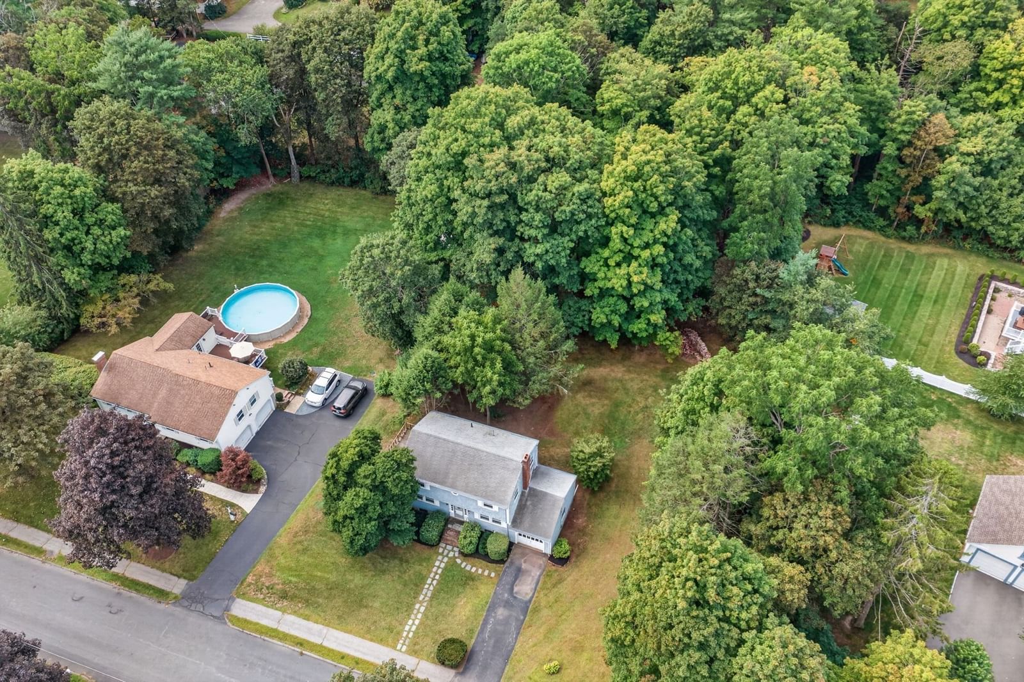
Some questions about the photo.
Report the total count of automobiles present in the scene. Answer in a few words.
2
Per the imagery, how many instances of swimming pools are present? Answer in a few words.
one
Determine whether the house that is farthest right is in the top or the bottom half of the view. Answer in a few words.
bottom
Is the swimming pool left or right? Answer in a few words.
left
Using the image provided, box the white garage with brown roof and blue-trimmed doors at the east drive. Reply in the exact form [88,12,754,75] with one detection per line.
[959,475,1024,591]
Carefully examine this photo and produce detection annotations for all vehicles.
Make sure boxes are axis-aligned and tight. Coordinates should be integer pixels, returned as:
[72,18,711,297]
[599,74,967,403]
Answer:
[306,371,340,407]
[334,381,368,416]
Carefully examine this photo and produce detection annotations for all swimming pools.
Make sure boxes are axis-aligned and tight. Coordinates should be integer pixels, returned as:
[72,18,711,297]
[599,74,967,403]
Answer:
[220,282,301,342]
